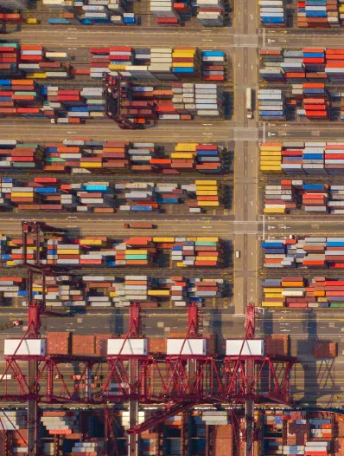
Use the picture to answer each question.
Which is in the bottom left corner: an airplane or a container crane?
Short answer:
container crane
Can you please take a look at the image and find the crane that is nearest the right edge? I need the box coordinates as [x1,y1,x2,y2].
[222,303,306,456]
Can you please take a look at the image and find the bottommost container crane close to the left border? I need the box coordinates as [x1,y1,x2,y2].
[0,303,109,456]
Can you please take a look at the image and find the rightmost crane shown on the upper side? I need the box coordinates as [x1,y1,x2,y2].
[101,75,141,131]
